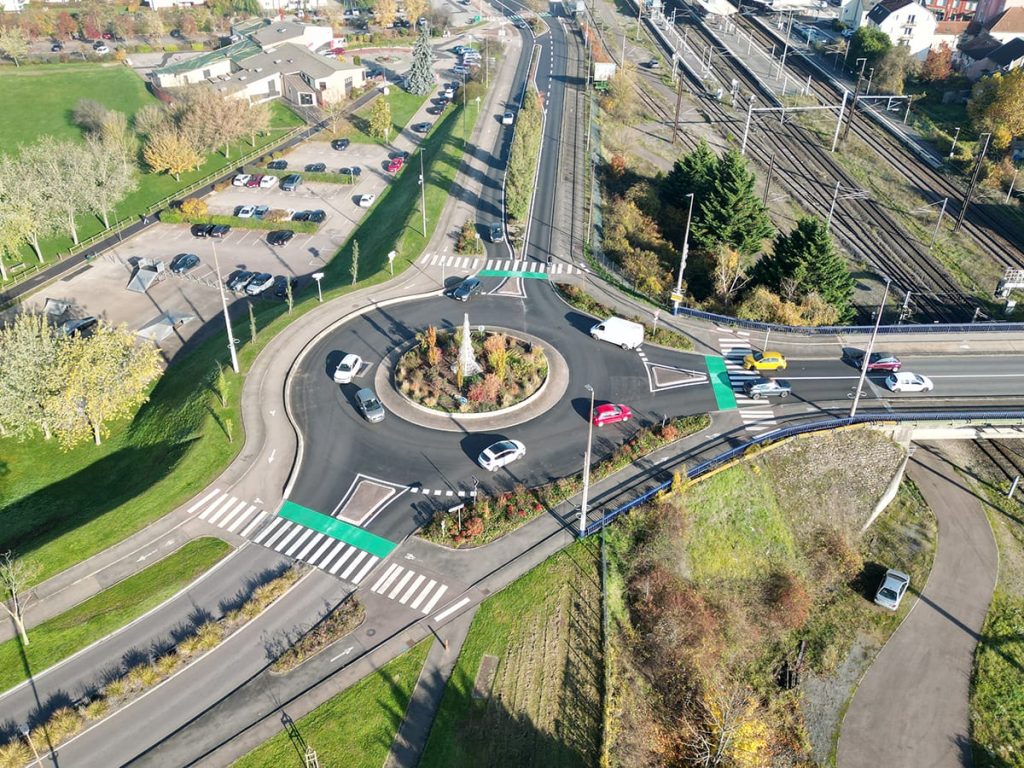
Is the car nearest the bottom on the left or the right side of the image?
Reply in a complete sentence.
It is on the right.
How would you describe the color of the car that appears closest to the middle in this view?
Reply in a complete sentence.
In this view, the car that appears closest to the middle is white.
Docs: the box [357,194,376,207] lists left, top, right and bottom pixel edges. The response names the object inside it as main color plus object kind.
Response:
white vehicle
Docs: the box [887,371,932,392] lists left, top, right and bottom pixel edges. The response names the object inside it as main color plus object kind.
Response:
white car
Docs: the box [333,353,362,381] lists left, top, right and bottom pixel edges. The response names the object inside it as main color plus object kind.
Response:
white car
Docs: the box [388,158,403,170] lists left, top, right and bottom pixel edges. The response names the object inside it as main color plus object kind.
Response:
red vehicle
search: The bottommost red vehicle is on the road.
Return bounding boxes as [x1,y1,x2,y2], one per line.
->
[592,402,634,427]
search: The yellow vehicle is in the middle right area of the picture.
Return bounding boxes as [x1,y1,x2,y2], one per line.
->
[745,350,787,369]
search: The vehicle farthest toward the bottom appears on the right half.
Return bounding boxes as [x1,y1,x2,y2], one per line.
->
[873,569,908,611]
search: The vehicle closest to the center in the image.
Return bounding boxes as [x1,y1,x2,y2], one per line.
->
[476,439,526,470]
